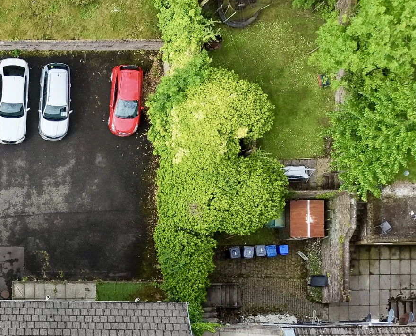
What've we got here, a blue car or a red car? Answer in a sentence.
Of the two, only a red car appears.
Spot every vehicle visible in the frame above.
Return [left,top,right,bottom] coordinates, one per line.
[37,62,76,142]
[107,64,144,140]
[0,57,31,144]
